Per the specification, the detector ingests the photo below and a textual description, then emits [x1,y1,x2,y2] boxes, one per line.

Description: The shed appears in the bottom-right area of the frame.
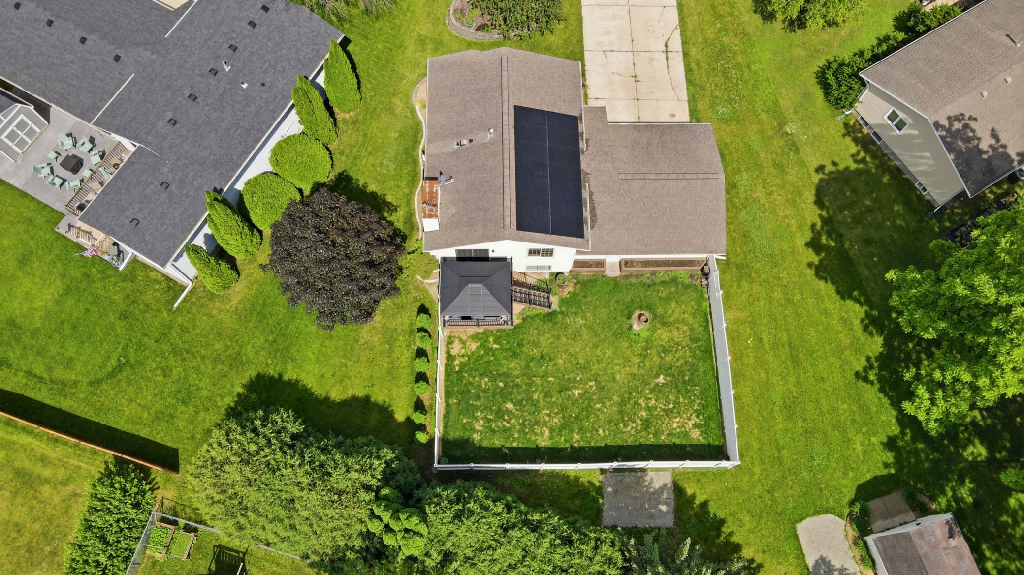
[867,509,979,575]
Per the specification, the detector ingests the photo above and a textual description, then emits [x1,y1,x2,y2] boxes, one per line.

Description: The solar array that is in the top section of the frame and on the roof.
[514,106,582,239]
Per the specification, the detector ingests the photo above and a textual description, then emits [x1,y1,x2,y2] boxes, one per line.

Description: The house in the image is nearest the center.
[421,48,726,272]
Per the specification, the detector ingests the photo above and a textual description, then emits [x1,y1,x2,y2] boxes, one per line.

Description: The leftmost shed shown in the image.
[0,85,49,162]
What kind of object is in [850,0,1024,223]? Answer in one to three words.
house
